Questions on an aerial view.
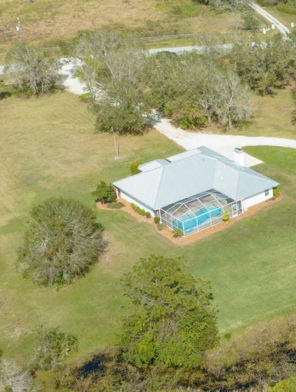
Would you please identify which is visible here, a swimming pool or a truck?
swimming pool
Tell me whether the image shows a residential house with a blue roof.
No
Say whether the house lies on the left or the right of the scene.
right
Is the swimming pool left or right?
right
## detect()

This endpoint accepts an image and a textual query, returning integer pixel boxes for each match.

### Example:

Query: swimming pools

[158,198,241,235]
